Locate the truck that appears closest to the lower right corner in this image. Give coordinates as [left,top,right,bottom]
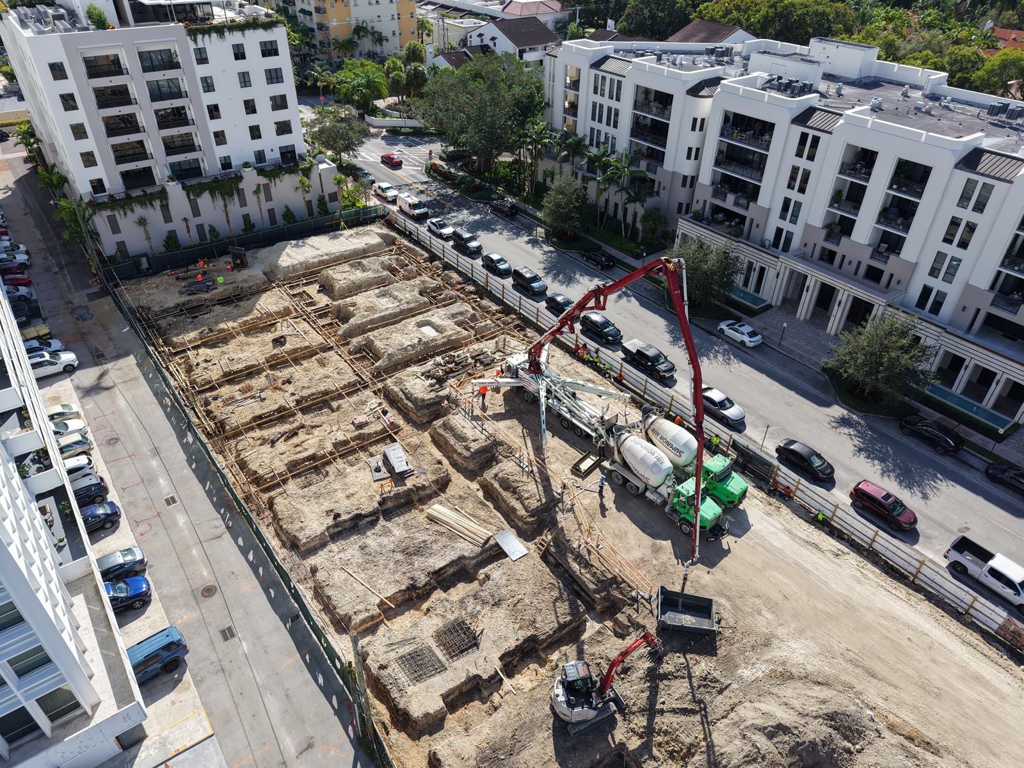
[946,540,1024,615]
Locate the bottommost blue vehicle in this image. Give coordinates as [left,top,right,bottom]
[124,629,192,689]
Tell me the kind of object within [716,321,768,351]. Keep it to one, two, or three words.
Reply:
car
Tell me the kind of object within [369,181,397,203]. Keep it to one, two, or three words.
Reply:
truck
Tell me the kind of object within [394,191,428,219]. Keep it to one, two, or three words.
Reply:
van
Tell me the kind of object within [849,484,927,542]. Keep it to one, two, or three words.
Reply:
car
